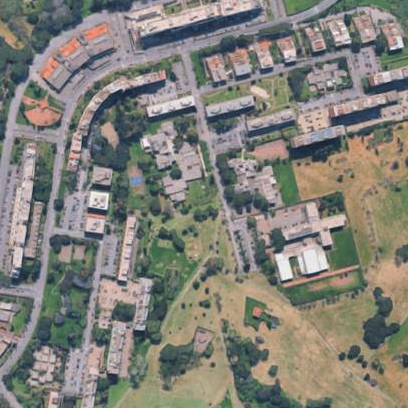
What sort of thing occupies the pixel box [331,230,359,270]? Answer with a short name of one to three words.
sports field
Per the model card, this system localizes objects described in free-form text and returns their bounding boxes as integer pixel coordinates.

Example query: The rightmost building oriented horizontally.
[365,65,408,87]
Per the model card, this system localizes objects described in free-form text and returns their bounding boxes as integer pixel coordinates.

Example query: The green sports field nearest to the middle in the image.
[273,161,300,207]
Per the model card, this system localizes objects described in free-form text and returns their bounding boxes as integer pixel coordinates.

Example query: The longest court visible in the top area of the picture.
[255,141,288,162]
